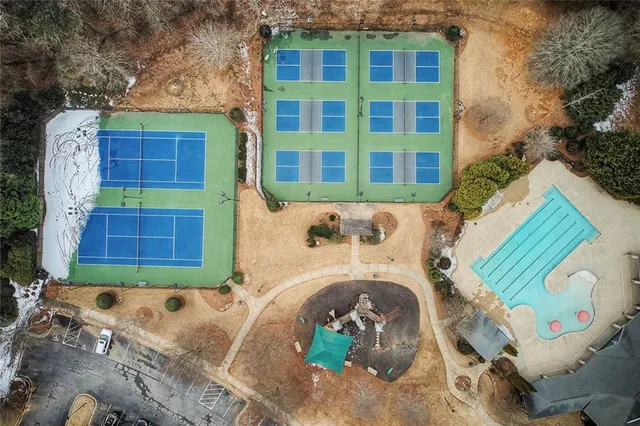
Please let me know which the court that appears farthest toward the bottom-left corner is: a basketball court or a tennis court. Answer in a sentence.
I'd identify the court that appears farthest toward the bottom-left corner as a tennis court.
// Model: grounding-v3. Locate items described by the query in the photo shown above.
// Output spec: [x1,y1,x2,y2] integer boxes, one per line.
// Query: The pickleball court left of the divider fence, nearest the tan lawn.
[275,150,346,183]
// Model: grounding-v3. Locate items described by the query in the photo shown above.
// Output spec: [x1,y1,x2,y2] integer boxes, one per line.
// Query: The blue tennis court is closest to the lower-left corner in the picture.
[72,206,205,267]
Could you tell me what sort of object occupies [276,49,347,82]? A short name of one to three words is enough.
sports court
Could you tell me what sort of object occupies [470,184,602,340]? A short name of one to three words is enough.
swimming pool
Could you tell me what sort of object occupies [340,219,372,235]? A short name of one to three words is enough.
building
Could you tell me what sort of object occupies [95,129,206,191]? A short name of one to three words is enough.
tennis court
